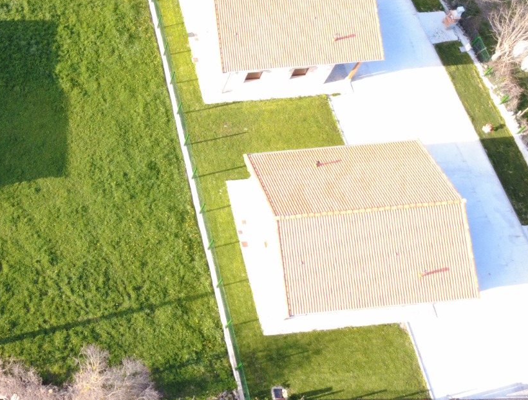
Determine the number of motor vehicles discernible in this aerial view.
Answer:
none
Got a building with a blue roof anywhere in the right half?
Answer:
No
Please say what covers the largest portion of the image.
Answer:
grass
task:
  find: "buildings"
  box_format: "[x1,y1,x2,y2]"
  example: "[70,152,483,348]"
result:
[201,0,388,91]
[244,146,486,324]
